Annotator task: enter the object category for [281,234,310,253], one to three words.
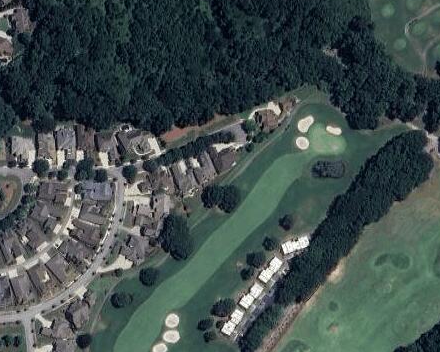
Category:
building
